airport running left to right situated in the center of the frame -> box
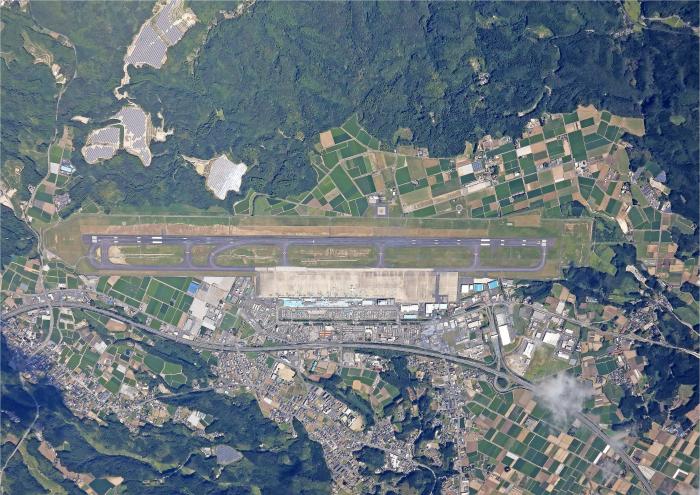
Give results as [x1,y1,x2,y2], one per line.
[44,213,593,309]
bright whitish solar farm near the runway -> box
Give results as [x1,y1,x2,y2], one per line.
[207,155,247,199]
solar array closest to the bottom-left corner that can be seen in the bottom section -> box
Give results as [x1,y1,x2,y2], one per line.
[212,444,244,465]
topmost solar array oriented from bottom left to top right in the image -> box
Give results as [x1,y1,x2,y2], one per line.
[125,0,185,68]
